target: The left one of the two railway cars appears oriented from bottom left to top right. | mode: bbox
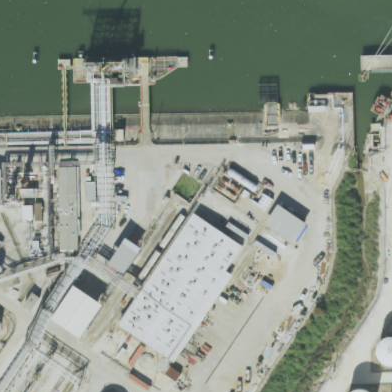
[138,250,162,281]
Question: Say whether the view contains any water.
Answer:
Yes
